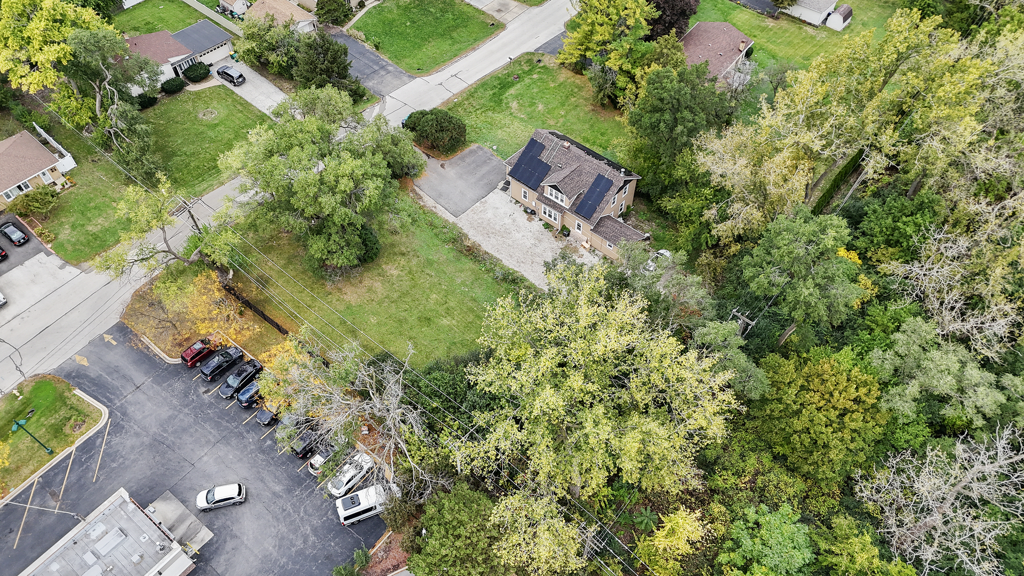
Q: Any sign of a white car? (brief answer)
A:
Yes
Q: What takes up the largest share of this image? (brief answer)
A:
trees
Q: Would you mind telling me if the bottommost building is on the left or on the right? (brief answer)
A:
left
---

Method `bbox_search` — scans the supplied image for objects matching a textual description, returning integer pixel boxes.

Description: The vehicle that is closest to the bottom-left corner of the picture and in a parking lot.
[194,483,248,513]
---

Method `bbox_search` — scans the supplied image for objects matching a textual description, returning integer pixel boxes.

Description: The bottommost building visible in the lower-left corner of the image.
[19,486,202,576]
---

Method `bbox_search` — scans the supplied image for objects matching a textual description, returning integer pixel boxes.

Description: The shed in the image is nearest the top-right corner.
[826,1,854,30]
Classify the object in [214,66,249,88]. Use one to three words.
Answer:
car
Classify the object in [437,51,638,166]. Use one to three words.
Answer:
house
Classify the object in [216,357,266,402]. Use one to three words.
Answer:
car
